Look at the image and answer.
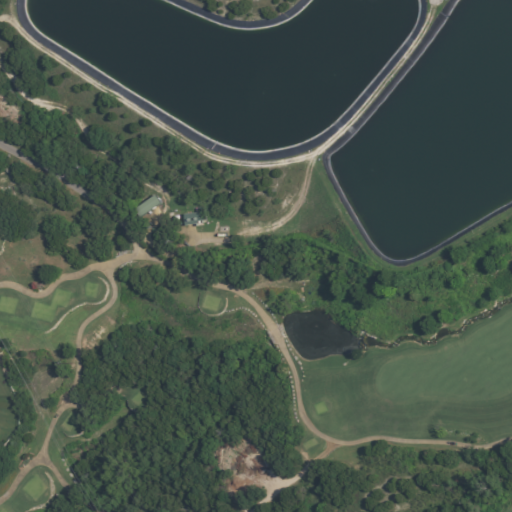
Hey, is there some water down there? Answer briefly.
Yes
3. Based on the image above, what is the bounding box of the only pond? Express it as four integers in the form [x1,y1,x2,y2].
[285,310,360,358]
